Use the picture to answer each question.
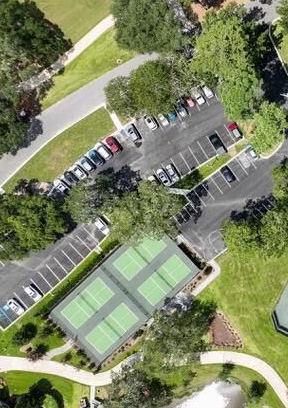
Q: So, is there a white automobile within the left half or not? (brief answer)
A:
Yes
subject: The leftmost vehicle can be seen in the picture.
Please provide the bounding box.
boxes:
[9,298,26,315]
